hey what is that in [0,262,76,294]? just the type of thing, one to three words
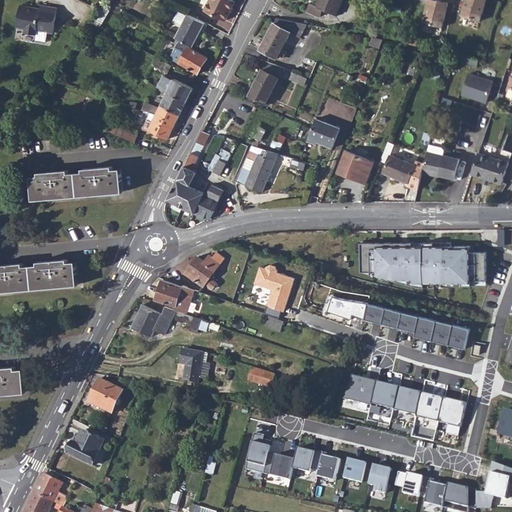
building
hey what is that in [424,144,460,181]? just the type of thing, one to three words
house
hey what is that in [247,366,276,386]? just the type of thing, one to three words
barn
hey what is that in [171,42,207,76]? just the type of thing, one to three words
house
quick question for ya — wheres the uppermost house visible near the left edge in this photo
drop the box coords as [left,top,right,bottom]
[15,6,57,46]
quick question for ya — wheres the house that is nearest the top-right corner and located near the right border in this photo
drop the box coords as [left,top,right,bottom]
[459,0,488,30]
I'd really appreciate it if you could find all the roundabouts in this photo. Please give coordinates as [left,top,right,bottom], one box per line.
[126,219,179,268]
